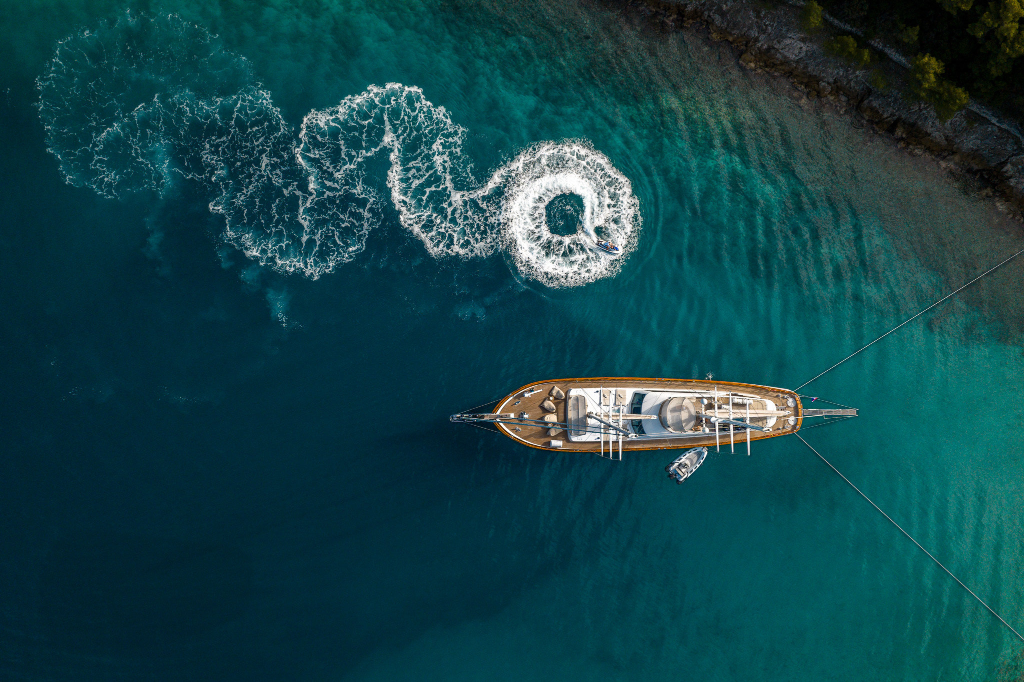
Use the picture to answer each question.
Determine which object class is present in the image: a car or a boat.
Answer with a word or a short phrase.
boat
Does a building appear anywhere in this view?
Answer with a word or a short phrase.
No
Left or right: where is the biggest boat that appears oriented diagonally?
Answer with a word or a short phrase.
right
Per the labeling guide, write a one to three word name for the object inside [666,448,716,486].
boat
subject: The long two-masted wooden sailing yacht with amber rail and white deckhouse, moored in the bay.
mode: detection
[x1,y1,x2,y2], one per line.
[450,377,858,461]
